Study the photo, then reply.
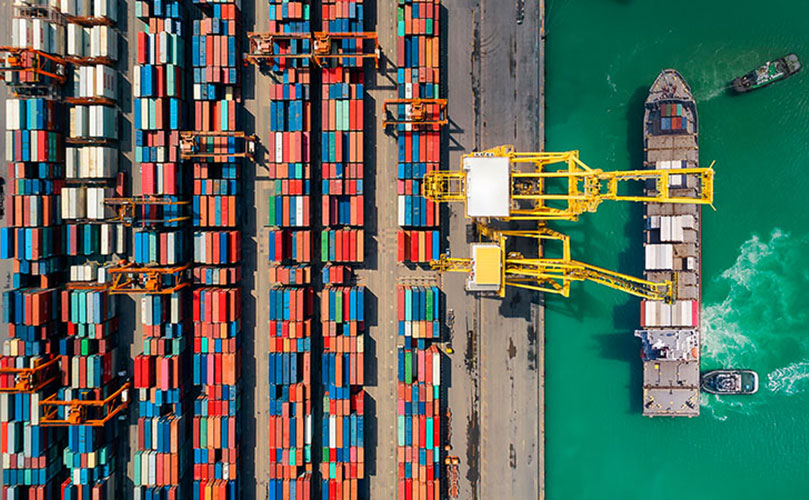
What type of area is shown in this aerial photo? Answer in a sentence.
This image shows a port.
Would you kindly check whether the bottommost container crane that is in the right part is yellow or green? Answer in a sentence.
The color of the bottommost container crane that is in the right part is yellow.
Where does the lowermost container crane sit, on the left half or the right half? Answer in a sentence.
The lowermost container crane appears in the left half of the scene.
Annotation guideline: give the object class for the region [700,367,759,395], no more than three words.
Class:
boat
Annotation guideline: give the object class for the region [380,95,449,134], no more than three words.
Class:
container crane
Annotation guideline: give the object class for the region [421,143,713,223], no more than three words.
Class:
container crane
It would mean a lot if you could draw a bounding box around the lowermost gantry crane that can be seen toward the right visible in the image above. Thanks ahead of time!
[425,220,670,302]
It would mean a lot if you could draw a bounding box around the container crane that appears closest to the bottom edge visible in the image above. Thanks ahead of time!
[38,378,131,427]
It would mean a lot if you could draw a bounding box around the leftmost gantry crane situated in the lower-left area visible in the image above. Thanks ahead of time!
[0,349,63,395]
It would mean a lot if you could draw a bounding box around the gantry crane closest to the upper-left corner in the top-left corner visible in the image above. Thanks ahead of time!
[0,43,70,85]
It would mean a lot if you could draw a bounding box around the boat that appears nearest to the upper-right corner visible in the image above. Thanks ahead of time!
[729,53,800,96]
